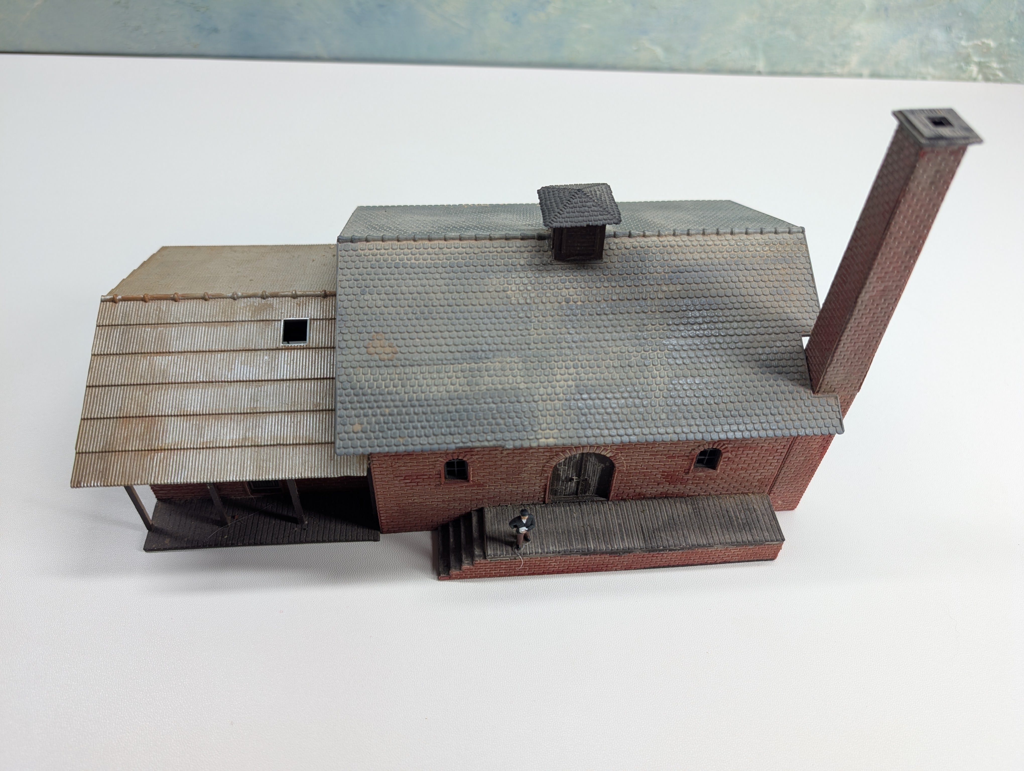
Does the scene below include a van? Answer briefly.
No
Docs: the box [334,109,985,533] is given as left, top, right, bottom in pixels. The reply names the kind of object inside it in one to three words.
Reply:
building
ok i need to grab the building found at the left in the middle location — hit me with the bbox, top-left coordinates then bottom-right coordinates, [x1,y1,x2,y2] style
[70,243,380,551]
